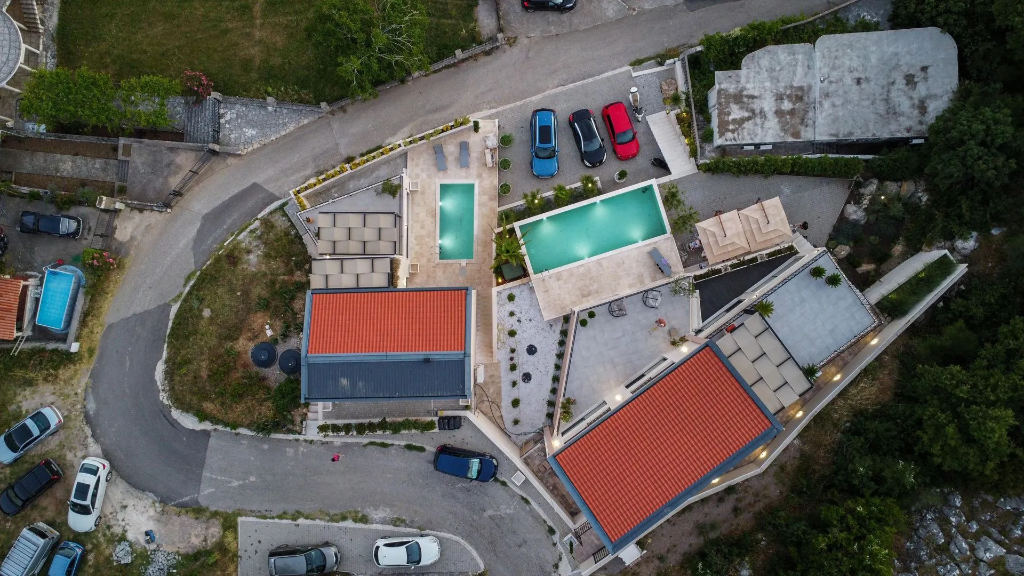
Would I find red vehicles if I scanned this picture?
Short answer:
Yes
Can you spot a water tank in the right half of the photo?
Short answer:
No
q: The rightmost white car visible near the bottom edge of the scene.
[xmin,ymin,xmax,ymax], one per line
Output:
[373,532,442,568]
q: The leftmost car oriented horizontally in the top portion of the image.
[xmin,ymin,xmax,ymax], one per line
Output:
[18,208,90,241]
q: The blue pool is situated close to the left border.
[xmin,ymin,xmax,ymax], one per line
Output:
[35,265,88,330]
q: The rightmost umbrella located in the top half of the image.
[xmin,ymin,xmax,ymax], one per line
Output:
[735,197,793,252]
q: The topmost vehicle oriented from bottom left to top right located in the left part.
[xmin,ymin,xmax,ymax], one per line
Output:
[0,405,68,459]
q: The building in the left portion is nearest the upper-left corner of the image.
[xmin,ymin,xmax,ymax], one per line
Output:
[97,195,142,214]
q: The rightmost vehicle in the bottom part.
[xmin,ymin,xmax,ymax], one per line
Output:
[433,446,499,485]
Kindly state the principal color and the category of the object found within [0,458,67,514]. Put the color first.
black car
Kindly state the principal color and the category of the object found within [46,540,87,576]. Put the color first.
blue car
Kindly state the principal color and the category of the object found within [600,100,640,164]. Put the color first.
red car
